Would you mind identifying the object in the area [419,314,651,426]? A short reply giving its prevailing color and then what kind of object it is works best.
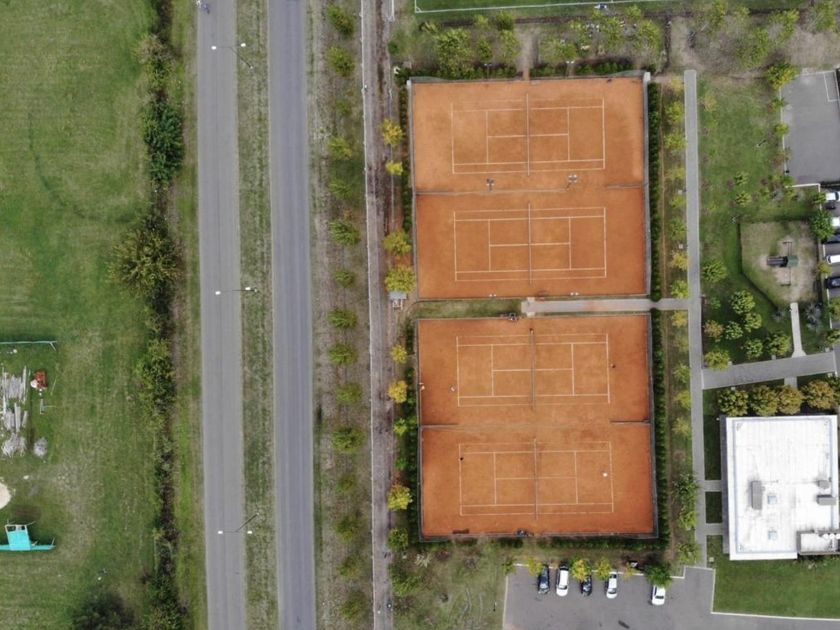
orange tennis court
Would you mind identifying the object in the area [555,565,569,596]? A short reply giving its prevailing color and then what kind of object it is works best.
white vehicle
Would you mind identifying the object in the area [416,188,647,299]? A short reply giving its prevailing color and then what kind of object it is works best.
orange tennis court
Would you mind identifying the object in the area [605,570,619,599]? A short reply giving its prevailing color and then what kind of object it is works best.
white vehicle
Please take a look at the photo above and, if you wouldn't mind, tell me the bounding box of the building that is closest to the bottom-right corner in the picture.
[719,413,840,560]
